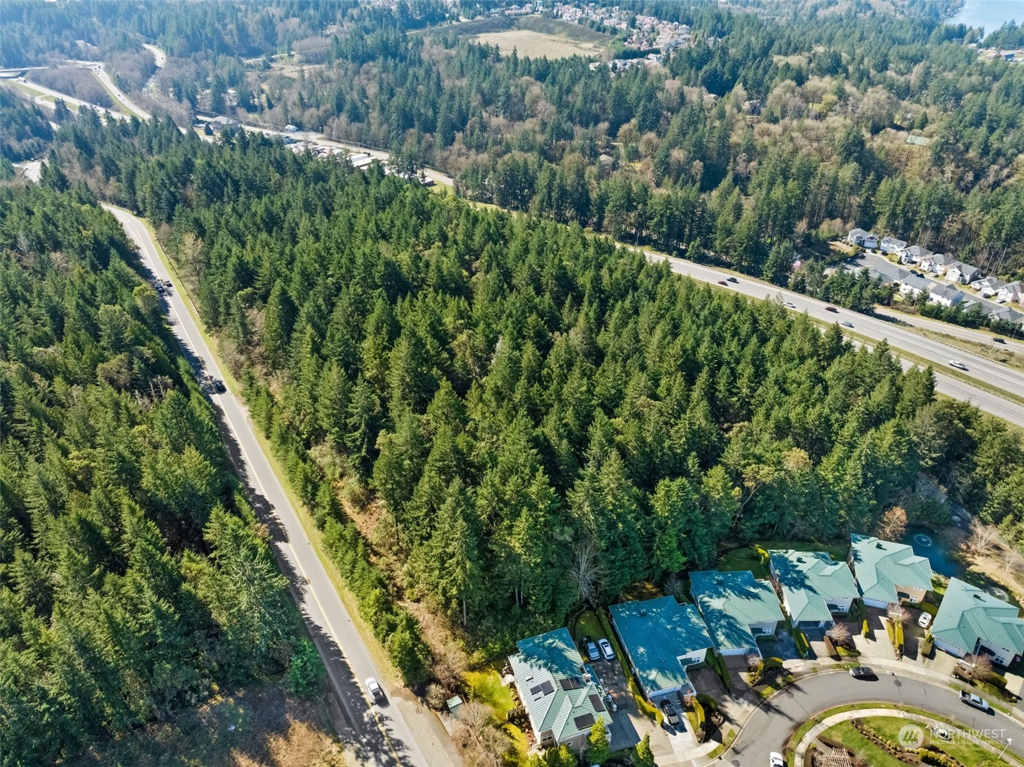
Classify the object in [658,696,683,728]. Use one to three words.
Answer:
truck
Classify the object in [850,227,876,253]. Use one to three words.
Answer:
house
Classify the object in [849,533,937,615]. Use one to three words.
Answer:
building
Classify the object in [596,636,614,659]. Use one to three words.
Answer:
car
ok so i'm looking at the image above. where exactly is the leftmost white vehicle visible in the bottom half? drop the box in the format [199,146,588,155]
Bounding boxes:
[366,677,387,706]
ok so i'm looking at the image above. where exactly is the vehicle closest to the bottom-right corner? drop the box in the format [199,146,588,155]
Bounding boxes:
[956,688,992,712]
